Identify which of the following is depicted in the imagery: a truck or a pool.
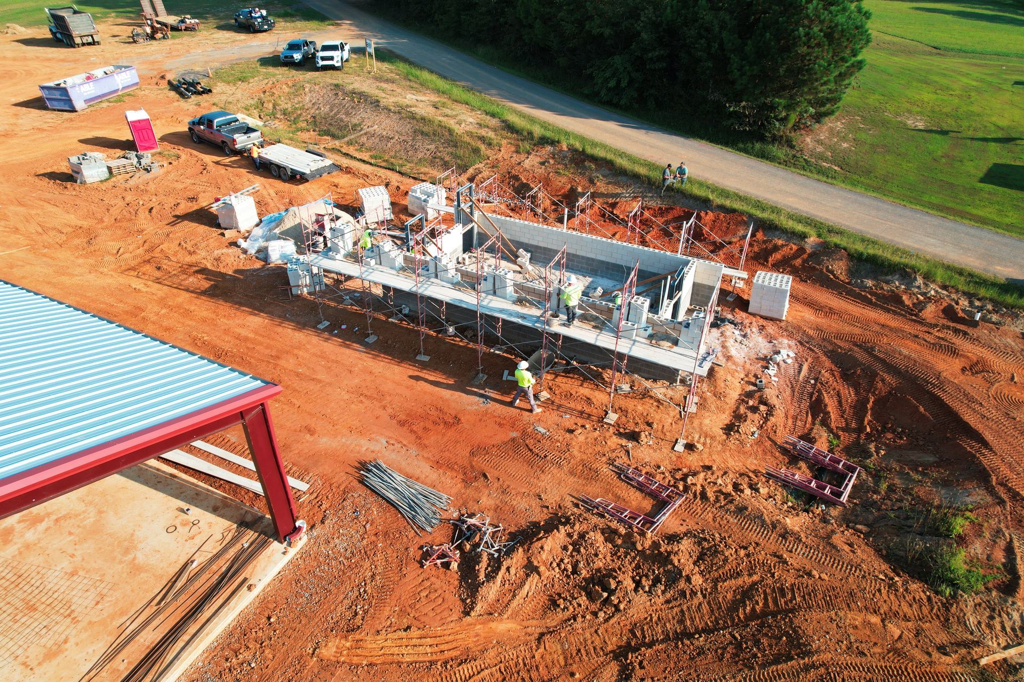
truck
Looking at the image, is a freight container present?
Yes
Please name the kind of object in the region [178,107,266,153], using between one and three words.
truck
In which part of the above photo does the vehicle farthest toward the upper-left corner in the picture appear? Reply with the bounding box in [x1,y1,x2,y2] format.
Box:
[35,0,103,44]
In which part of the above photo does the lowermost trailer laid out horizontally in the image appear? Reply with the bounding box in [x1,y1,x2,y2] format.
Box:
[244,142,353,184]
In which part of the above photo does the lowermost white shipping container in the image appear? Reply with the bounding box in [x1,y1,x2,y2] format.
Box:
[37,63,138,112]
